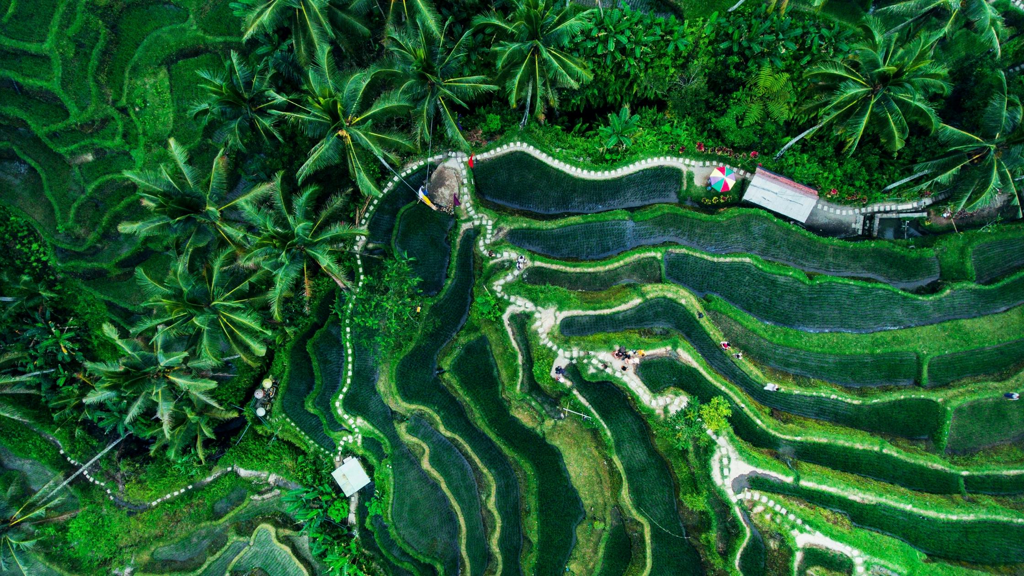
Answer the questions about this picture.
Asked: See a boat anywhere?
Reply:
No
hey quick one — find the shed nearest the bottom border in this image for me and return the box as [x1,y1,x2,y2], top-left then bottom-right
[331,455,371,497]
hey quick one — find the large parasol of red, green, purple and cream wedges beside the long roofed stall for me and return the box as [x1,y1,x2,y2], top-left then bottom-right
[711,165,736,191]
